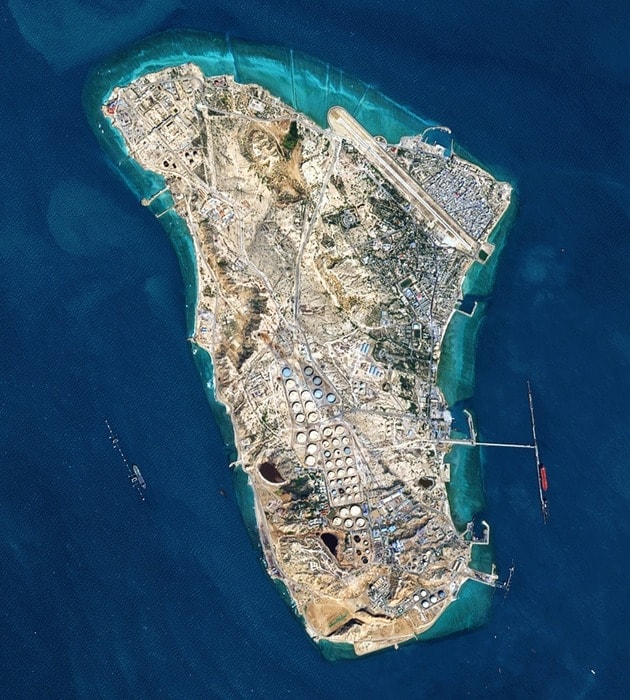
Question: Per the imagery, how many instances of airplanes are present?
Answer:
0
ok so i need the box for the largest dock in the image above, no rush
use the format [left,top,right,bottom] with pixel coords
[449,381,547,522]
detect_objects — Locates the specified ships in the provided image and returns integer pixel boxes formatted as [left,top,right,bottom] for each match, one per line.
[541,466,547,491]
[133,465,146,489]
